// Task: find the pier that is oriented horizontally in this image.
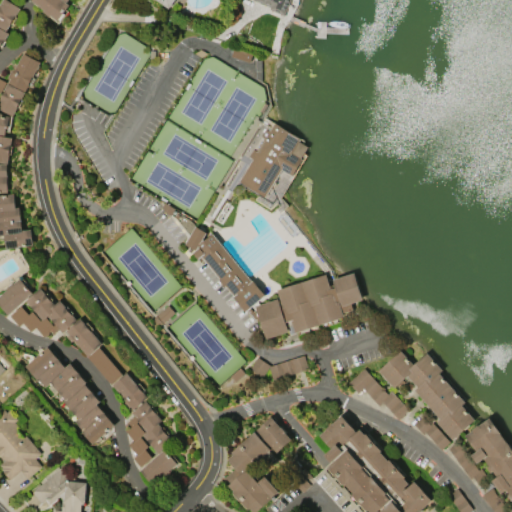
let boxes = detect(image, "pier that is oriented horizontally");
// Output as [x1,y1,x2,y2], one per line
[292,16,350,40]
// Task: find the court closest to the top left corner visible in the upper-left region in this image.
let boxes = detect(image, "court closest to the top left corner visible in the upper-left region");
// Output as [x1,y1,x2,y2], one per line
[84,33,150,114]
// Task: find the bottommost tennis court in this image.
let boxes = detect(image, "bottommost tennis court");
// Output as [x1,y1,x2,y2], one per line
[170,304,246,384]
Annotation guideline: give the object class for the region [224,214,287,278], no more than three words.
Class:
swimming pool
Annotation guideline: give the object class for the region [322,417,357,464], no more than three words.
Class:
house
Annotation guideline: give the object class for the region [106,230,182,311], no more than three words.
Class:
tennis court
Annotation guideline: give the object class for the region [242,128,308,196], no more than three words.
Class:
building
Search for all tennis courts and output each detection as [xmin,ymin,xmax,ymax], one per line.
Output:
[169,57,240,138]
[170,304,246,384]
[198,72,266,159]
[84,33,150,114]
[133,151,214,219]
[150,120,234,190]
[106,230,182,311]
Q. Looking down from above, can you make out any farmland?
No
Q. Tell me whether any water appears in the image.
Yes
